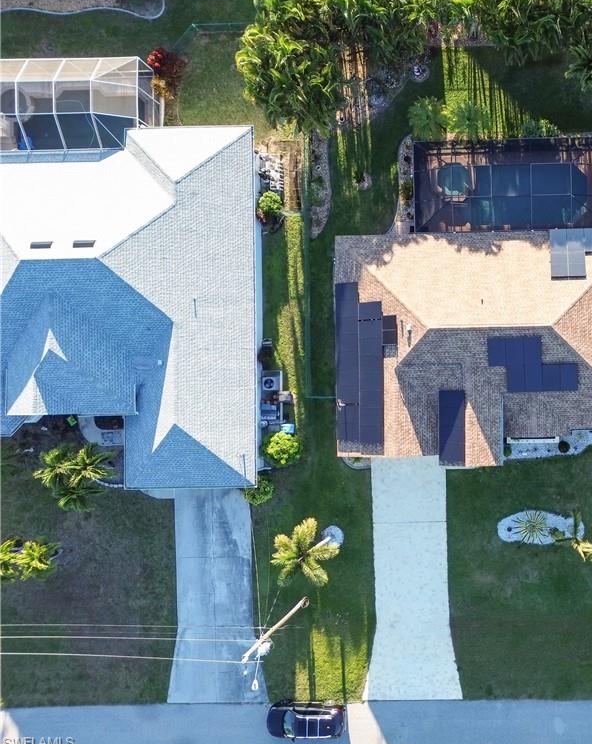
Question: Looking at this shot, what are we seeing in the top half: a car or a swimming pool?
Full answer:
Looking in the top half, you will find a swimming pool.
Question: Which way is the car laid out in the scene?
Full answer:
The car is oriented from side to side.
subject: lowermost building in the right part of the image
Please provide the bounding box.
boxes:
[332,229,592,469]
